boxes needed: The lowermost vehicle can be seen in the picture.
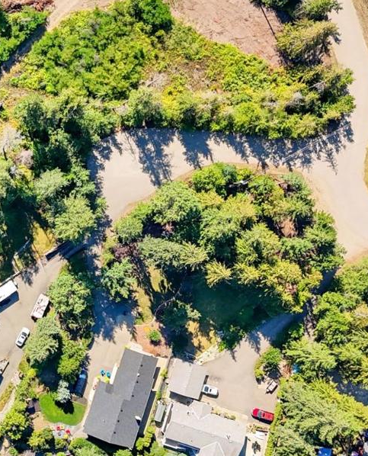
[249,408,273,421]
